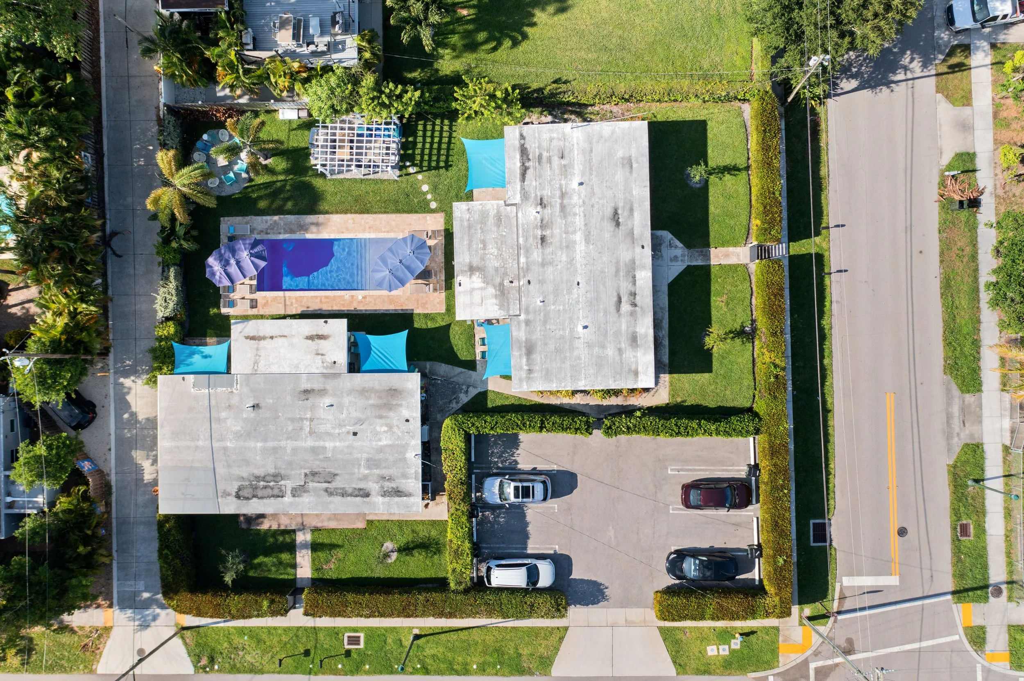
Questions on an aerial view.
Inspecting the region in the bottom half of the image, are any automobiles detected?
Yes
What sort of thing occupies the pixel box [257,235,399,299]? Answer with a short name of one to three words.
swimming pool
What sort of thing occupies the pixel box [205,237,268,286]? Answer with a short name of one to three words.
umbrella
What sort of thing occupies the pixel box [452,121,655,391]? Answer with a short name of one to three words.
house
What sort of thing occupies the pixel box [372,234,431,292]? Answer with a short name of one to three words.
umbrella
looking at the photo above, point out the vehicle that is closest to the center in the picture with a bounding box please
[482,473,551,507]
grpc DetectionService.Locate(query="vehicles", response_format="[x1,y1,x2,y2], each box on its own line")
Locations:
[58,382,104,433]
[484,555,555,591]
[482,473,551,507]
[938,0,1024,30]
[664,548,739,584]
[679,479,752,513]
